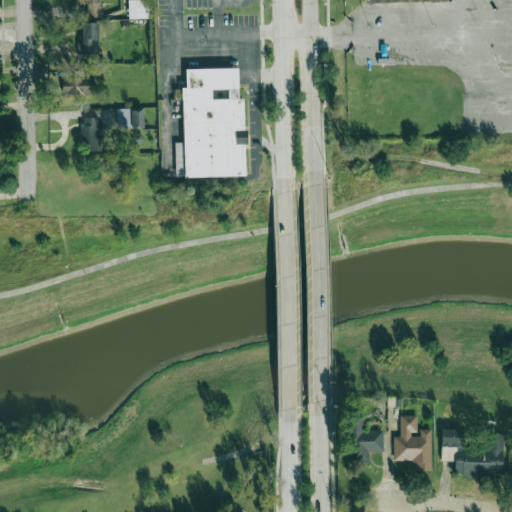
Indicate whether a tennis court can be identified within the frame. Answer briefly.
No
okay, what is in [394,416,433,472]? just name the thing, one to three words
house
